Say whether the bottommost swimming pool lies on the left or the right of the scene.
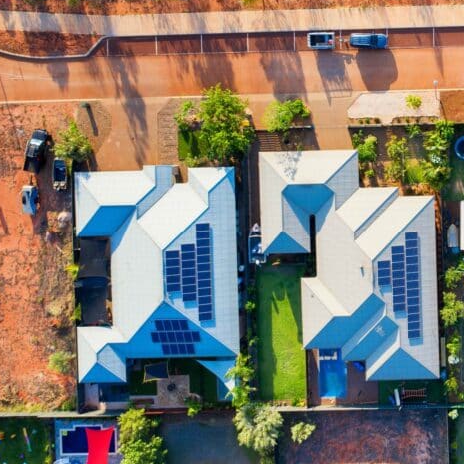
left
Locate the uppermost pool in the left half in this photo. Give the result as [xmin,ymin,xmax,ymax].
[99,383,129,403]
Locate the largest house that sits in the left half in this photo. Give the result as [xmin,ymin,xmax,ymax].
[74,164,242,384]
